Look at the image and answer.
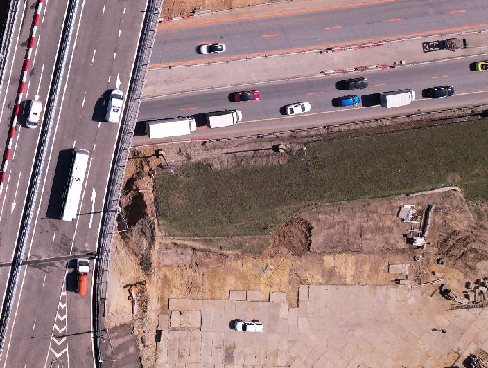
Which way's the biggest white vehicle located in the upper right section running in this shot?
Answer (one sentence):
From this overhead view, the biggest white vehicle located in the upper right section appears to run from side to side.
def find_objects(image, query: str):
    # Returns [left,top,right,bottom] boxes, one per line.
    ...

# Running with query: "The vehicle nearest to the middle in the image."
[204,108,239,128]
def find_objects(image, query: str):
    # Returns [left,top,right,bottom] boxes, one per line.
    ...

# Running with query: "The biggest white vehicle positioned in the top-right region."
[375,89,410,108]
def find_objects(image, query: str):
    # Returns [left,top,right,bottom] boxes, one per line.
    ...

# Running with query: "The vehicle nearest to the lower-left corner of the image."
[75,254,91,297]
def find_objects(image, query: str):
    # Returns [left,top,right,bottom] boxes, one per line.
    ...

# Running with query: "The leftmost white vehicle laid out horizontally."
[145,115,194,138]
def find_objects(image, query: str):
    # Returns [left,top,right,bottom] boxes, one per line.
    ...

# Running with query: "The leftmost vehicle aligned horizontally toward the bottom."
[235,319,262,333]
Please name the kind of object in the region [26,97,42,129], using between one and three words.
vehicle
